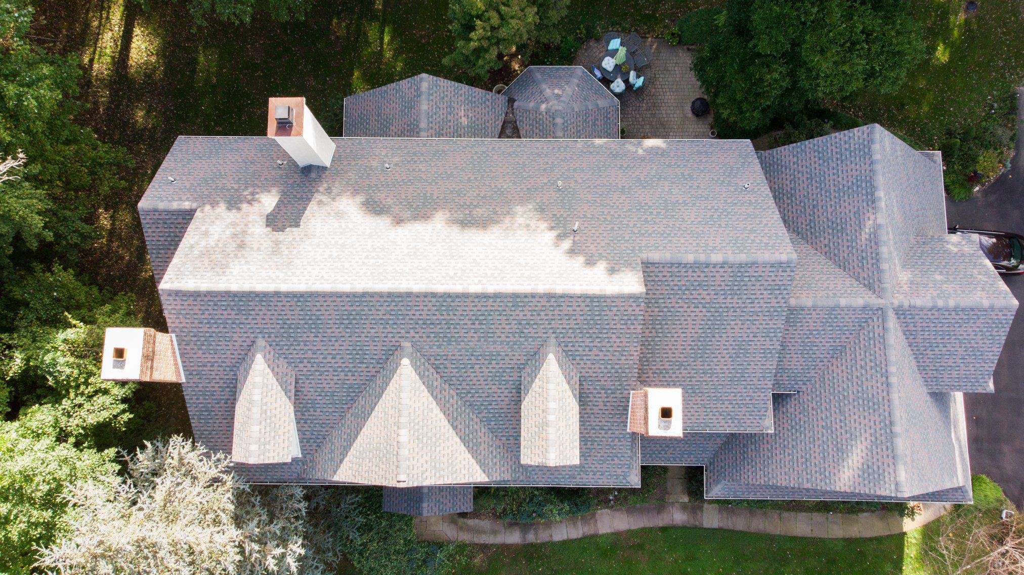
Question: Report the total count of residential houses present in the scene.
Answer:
1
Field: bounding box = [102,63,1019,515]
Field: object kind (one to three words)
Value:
house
